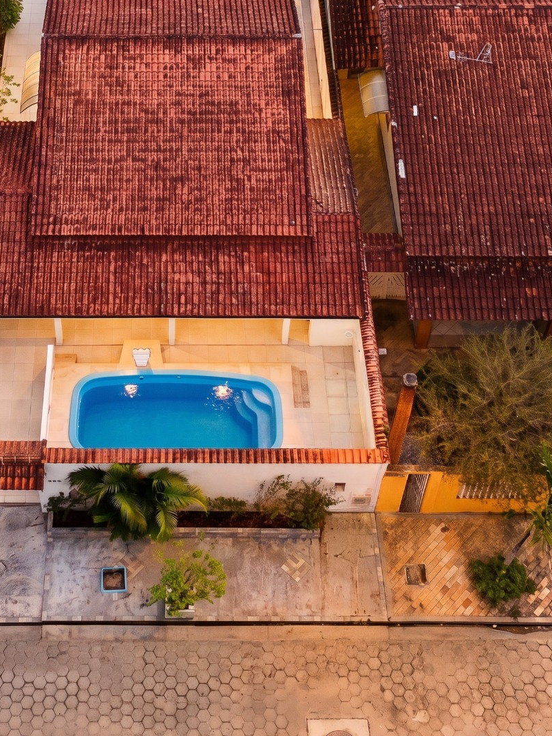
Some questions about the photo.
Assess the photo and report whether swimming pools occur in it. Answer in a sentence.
Yes, there's a swimming pool here.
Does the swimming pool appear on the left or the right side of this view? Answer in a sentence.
The swimming pool appears in the left half of the scene.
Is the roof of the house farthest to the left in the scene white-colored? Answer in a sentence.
No, the roof of the house farthest to the left is red.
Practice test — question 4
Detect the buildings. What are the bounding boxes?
[0,0,366,343]
[372,0,552,357]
